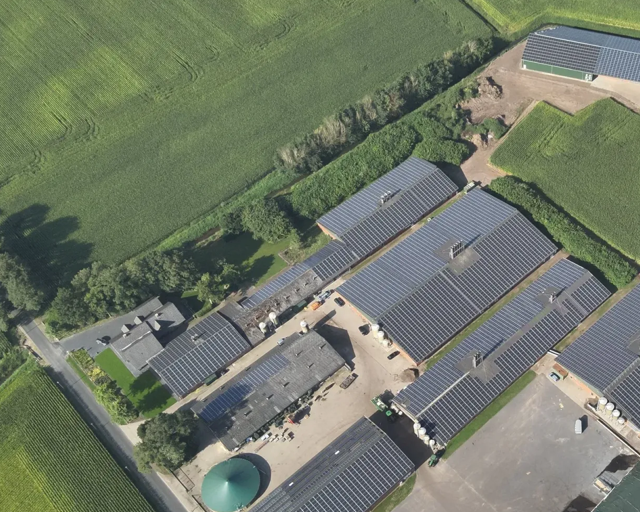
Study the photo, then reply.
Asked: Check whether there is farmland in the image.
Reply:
Yes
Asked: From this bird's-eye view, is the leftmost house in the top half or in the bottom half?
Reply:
bottom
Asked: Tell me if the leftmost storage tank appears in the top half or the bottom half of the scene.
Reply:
bottom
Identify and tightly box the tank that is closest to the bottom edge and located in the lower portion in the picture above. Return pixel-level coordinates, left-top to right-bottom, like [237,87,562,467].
[200,458,262,512]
